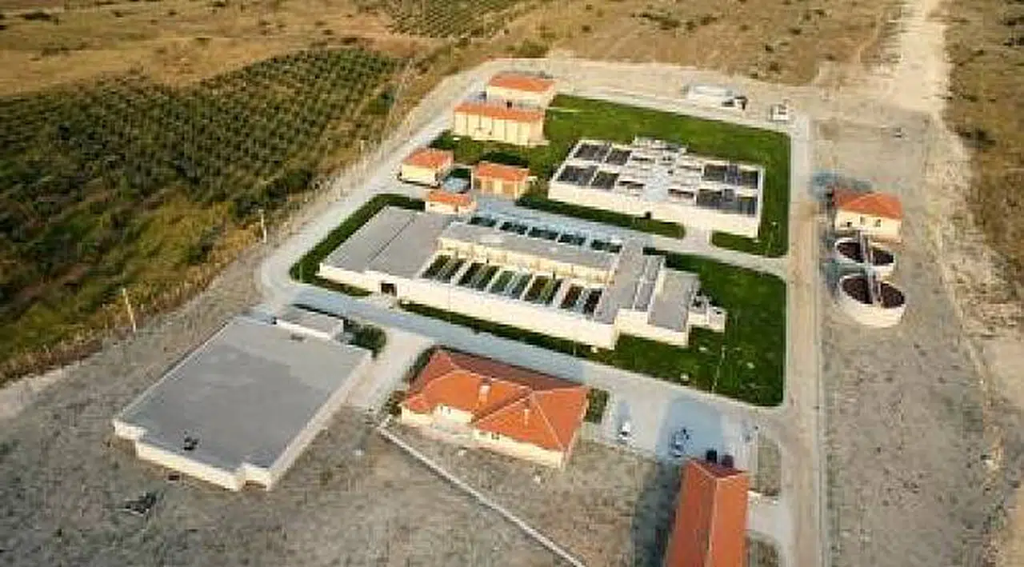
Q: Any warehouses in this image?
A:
Yes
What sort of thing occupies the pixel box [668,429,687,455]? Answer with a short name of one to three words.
car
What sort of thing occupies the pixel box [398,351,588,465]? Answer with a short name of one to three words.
building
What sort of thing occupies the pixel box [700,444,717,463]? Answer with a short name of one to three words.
car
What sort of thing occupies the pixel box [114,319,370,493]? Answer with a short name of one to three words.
warehouse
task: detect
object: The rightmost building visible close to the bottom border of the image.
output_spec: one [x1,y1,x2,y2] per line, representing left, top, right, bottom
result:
[659,454,752,567]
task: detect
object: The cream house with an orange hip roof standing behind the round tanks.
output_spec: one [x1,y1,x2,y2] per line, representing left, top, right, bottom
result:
[830,188,904,241]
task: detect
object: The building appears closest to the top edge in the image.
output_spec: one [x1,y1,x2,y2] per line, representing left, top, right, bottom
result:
[488,73,553,108]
